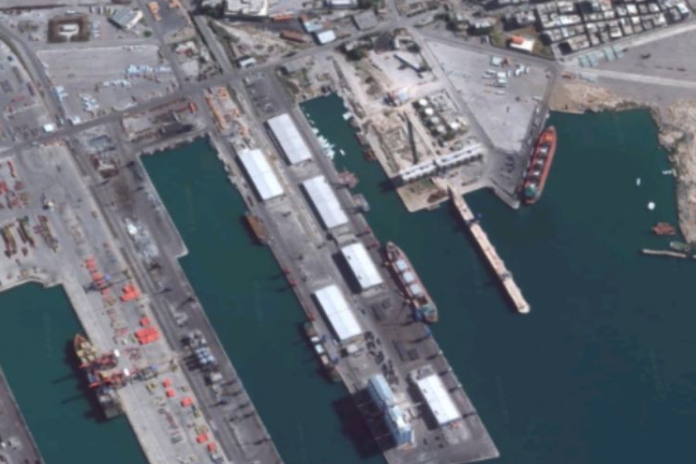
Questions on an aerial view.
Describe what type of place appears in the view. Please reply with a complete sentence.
This looks like a port.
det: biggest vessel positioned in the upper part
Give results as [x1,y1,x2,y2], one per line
[523,125,554,205]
